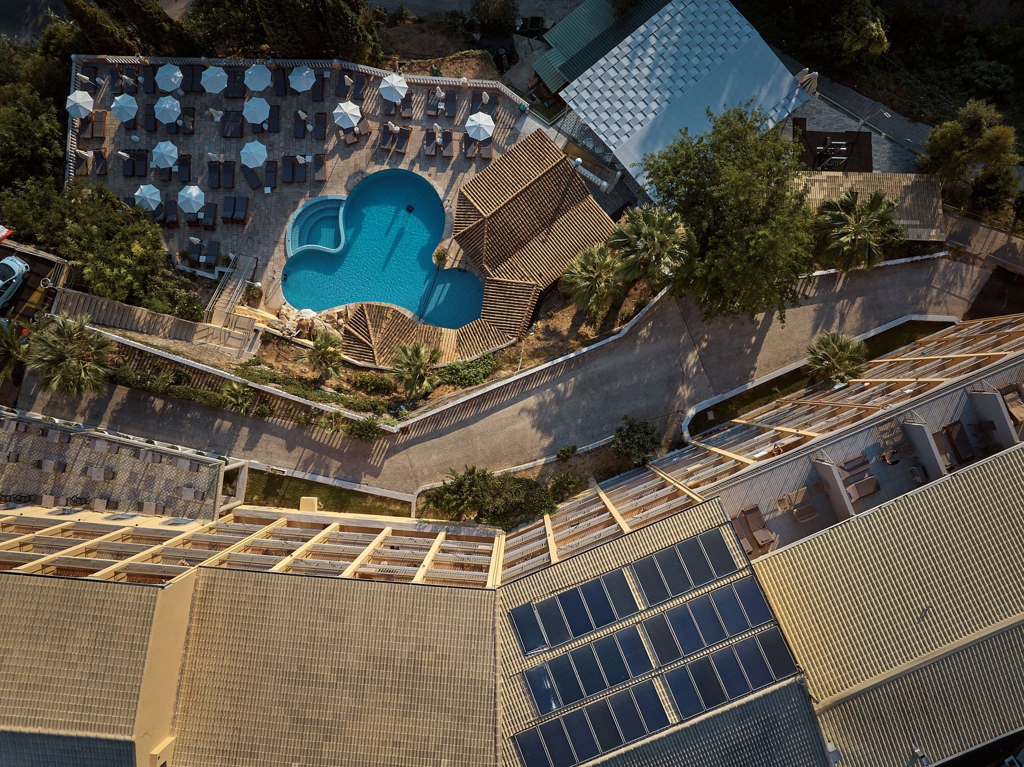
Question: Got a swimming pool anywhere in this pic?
Yes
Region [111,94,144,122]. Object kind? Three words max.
umbrella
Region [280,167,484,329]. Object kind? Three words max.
swimming pool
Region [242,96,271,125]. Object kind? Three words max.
umbrella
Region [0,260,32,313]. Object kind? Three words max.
car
